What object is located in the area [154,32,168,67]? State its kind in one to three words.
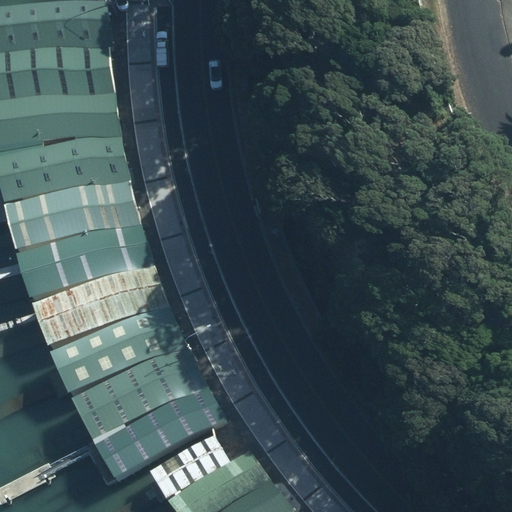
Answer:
vehicle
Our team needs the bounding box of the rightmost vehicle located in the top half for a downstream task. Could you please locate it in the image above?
[208,60,222,90]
